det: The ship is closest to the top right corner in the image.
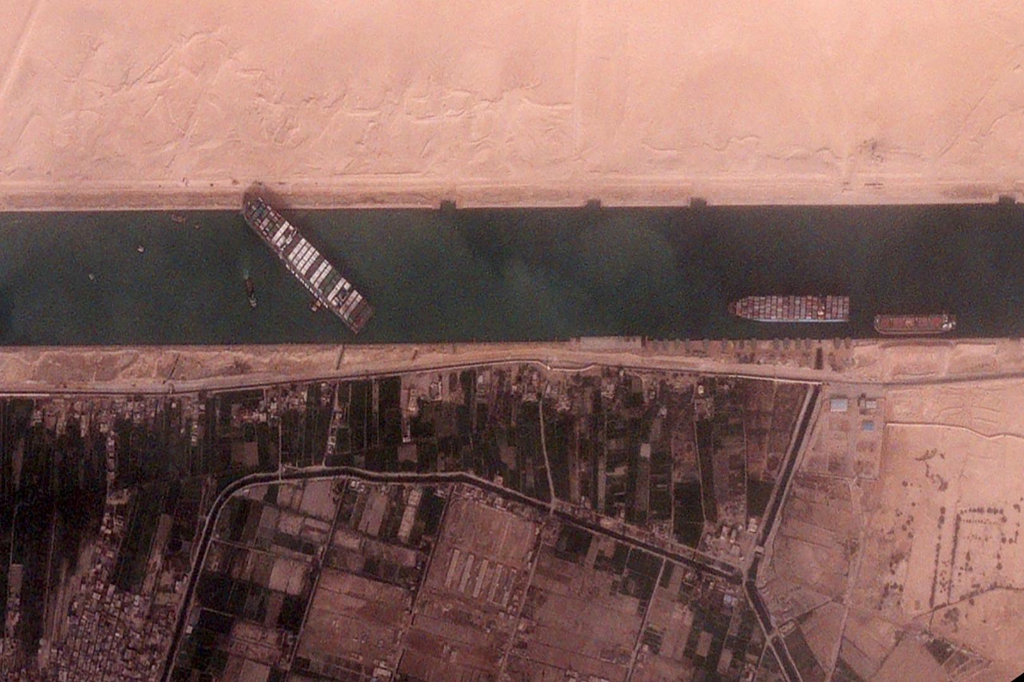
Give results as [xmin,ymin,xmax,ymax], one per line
[874,315,956,334]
